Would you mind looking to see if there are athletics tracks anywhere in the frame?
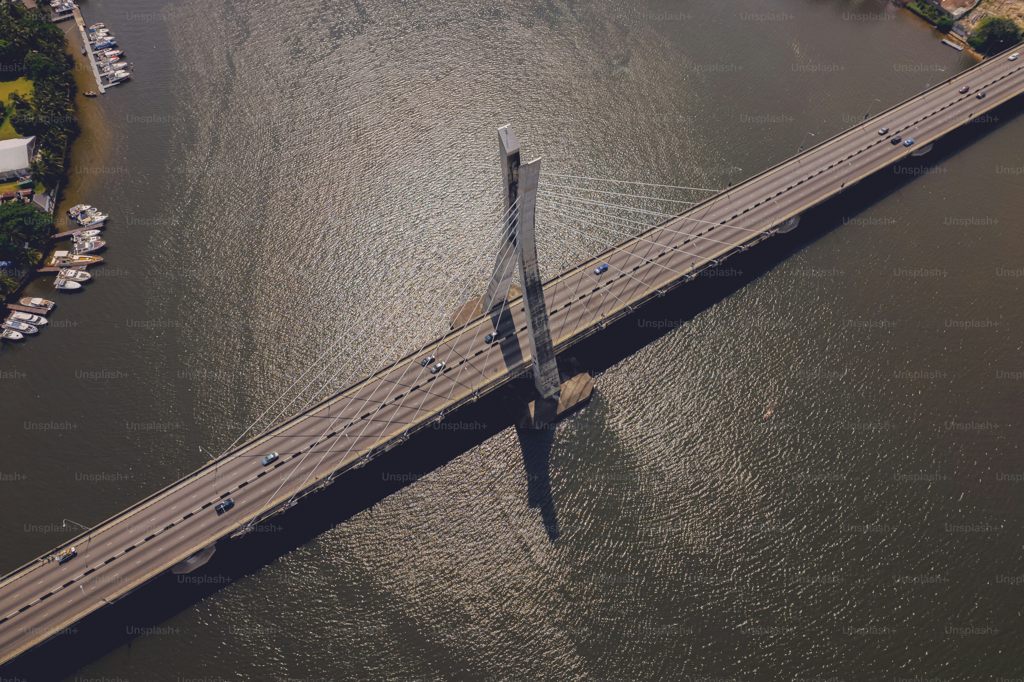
No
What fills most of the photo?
water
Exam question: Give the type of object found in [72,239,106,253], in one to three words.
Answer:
boat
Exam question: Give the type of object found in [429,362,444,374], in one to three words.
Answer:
vehicle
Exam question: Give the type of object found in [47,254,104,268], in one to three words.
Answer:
boat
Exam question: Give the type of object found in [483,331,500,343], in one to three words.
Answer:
vehicle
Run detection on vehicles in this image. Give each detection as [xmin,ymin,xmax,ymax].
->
[483,331,500,343]
[420,355,435,366]
[890,136,901,144]
[877,126,889,135]
[1008,51,1019,60]
[213,498,234,514]
[594,264,608,274]
[959,85,970,93]
[975,92,985,99]
[902,139,914,146]
[262,452,279,465]
[56,547,78,563]
[429,362,444,374]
